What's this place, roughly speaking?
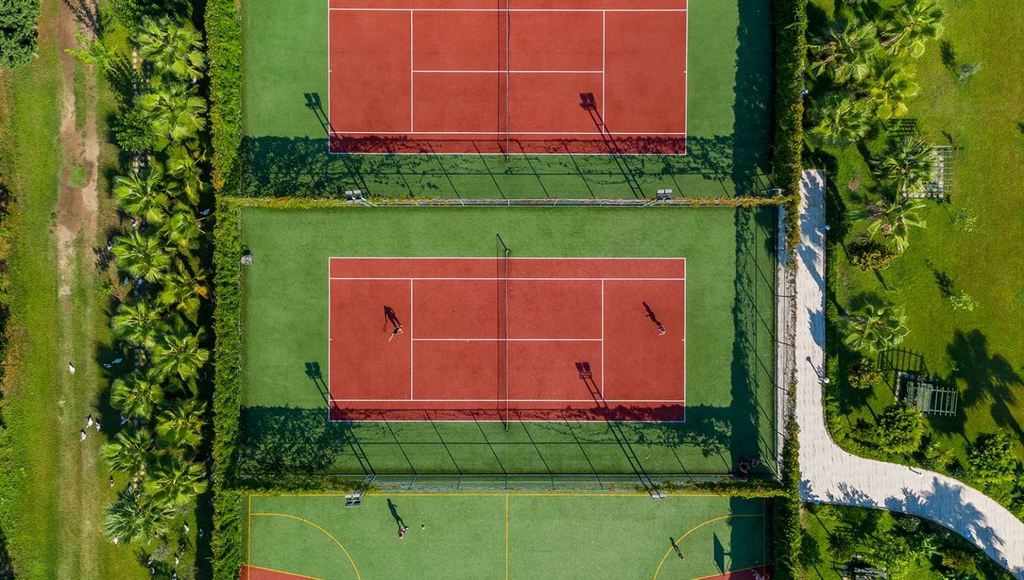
sports ground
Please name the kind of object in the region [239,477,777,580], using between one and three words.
basketball court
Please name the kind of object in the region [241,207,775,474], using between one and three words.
tennis court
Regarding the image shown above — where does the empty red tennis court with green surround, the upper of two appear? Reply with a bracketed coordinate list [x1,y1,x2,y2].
[241,0,775,204]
